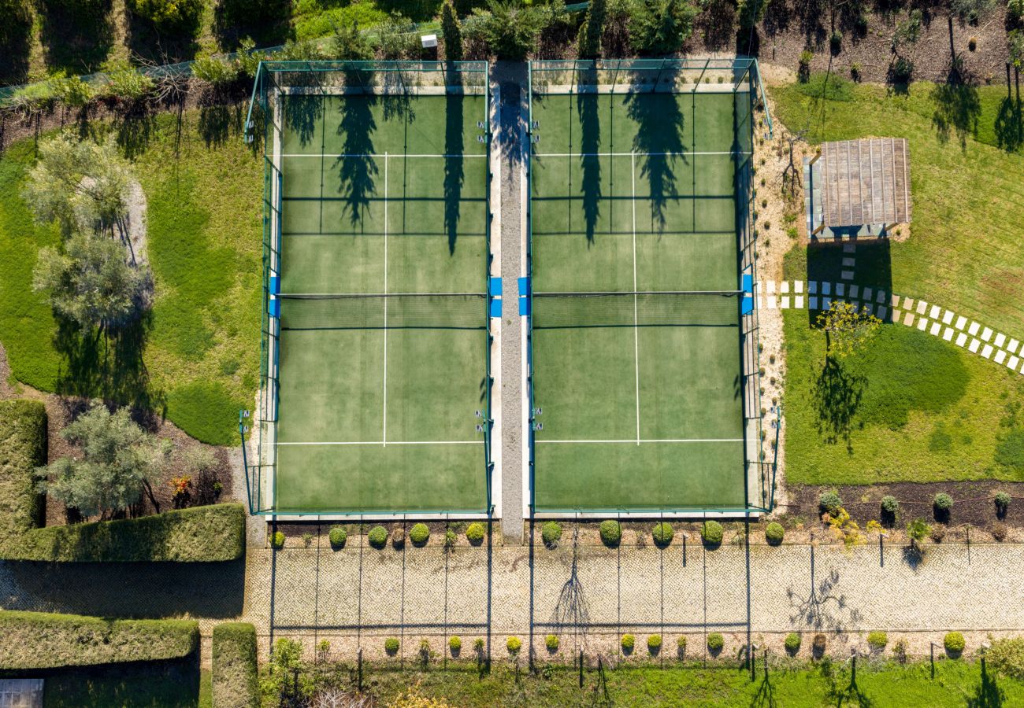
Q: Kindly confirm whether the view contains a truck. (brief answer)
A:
No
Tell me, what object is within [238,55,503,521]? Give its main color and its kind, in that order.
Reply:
green sports court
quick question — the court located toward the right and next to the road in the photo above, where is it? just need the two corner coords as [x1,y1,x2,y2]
[517,54,784,519]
